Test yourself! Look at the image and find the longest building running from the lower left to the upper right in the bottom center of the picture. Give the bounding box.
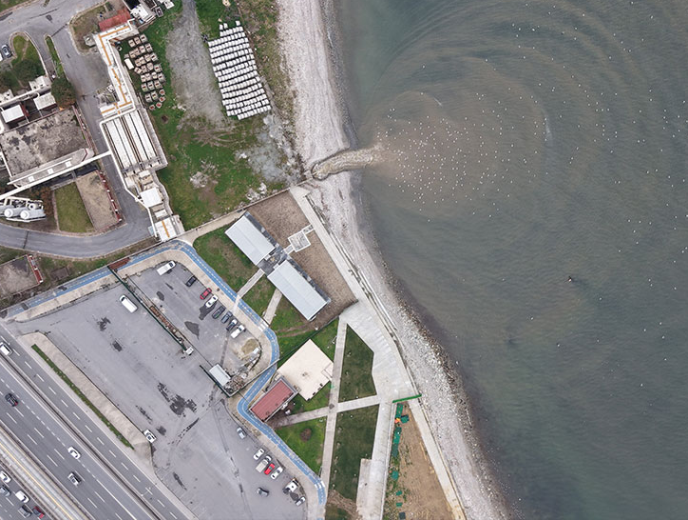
[248,376,298,421]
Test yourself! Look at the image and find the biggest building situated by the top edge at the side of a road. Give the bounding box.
[93,19,146,119]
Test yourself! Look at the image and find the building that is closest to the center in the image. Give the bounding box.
[267,255,333,320]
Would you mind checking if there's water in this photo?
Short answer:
Yes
